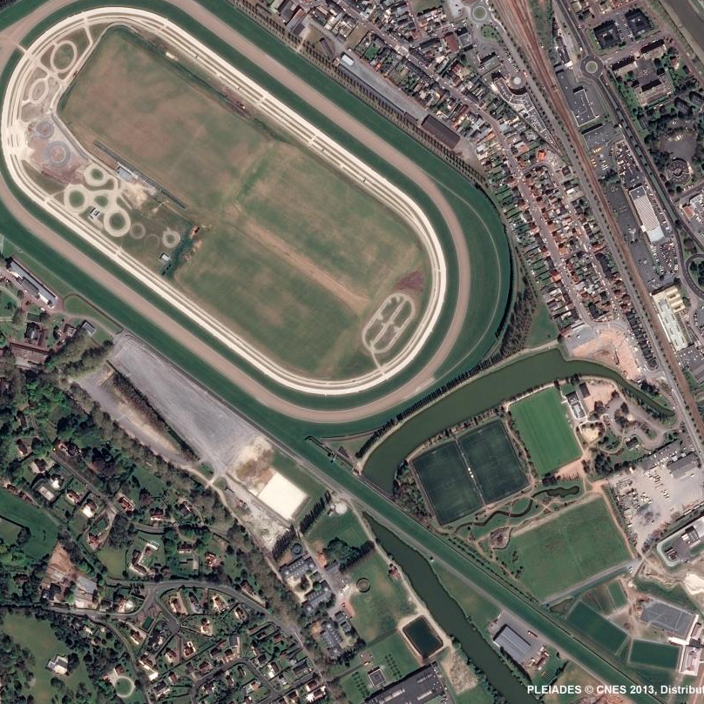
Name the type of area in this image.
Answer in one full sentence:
The picture captures a sports ground.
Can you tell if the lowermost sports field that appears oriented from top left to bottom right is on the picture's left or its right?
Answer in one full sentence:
It is on the right.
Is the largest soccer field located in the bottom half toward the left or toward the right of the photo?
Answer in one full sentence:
You can find the largest soccer field located in the bottom half on the right side of the picture.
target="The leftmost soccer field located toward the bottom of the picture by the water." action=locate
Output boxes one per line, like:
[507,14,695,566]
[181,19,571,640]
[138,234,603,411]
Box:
[412,442,484,524]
